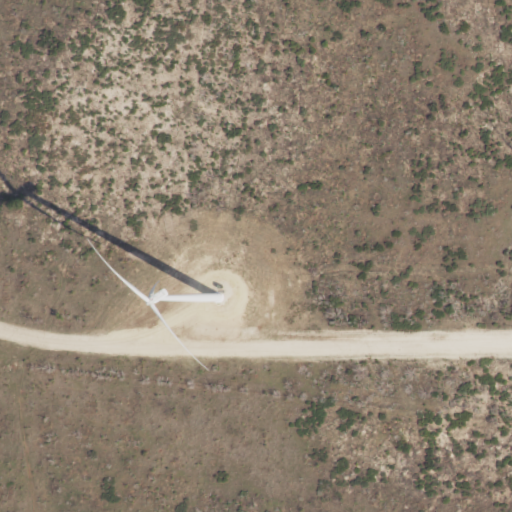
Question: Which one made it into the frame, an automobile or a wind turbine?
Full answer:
This aerial view contains a wind turbine.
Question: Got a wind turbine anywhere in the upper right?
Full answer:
No, in the upper right there is no wind turbine.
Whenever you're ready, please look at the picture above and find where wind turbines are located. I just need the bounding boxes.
[89,240,226,370]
